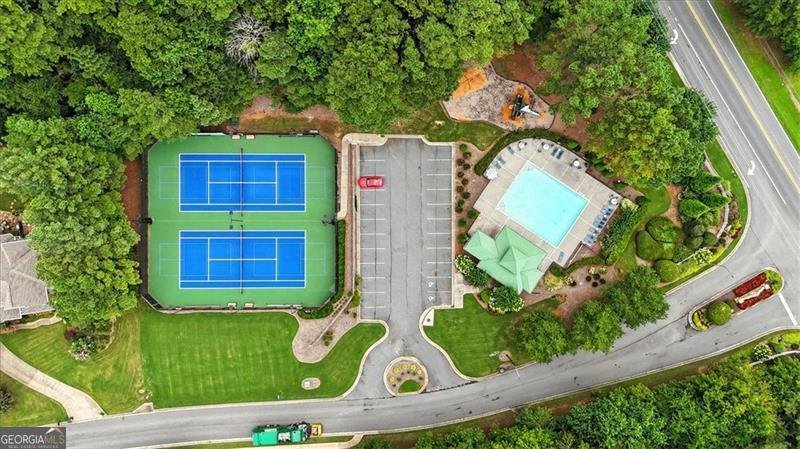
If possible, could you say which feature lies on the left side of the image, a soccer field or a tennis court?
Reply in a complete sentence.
It is a tennis court that can be seen on the left side of the image.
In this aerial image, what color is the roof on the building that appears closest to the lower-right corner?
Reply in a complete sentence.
The roof over the building that appears closest to the lower-right corner appears green.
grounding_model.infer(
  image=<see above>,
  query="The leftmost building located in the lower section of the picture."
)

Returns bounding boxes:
[0,233,56,322]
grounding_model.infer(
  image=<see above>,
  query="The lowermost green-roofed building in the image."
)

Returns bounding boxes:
[463,226,547,294]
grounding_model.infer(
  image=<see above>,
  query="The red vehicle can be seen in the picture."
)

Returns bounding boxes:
[358,175,384,188]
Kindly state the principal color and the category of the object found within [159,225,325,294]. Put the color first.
blue tennis court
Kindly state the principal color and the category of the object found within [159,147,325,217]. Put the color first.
blue tennis court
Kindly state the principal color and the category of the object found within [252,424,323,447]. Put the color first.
green truck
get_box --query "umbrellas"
[487,166,500,179]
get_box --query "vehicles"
[252,424,323,447]
[358,175,384,188]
